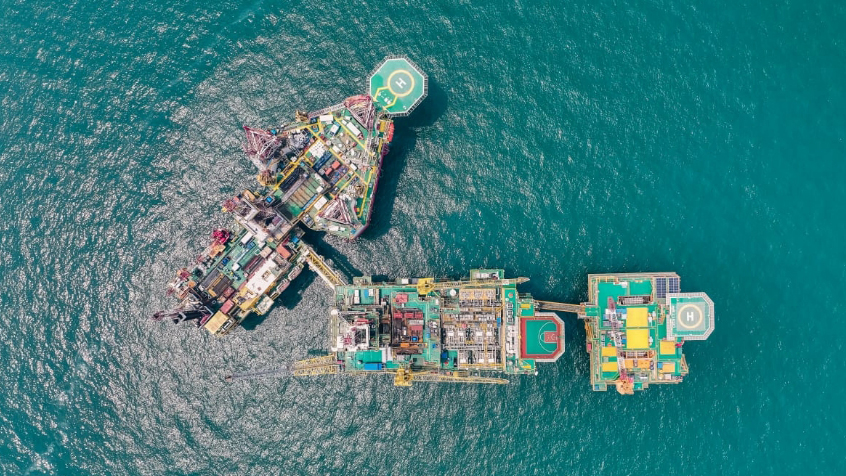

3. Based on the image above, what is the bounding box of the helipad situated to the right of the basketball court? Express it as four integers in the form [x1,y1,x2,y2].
[667,293,715,340]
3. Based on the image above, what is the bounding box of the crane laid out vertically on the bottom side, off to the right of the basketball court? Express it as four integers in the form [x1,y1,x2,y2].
[606,295,630,395]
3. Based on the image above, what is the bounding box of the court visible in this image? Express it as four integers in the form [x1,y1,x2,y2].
[519,312,565,363]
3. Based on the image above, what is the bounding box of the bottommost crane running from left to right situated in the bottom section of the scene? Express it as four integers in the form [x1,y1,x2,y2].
[392,369,508,387]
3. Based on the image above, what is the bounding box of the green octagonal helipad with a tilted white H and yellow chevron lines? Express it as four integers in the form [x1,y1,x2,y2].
[368,56,427,116]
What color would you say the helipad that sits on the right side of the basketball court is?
white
